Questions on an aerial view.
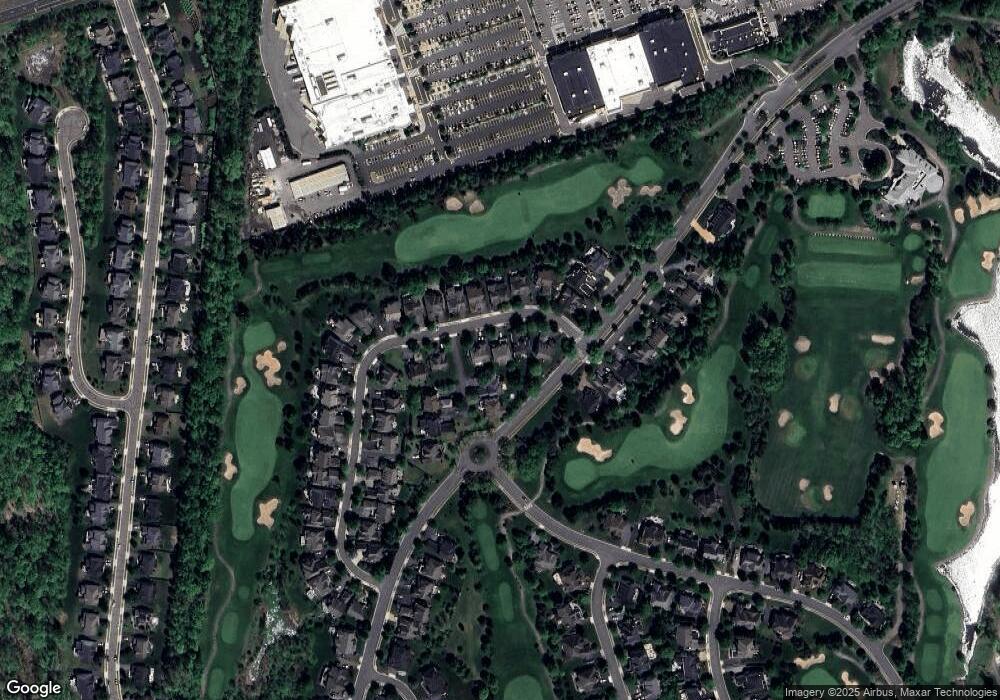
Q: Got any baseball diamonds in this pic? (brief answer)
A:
No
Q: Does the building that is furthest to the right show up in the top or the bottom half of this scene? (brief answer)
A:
top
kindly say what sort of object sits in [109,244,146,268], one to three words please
house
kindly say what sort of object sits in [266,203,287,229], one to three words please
building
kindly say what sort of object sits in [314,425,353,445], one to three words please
house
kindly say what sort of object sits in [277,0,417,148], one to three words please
building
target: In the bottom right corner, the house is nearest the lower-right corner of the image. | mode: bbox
[856,598,885,637]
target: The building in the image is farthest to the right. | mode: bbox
[880,140,944,210]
